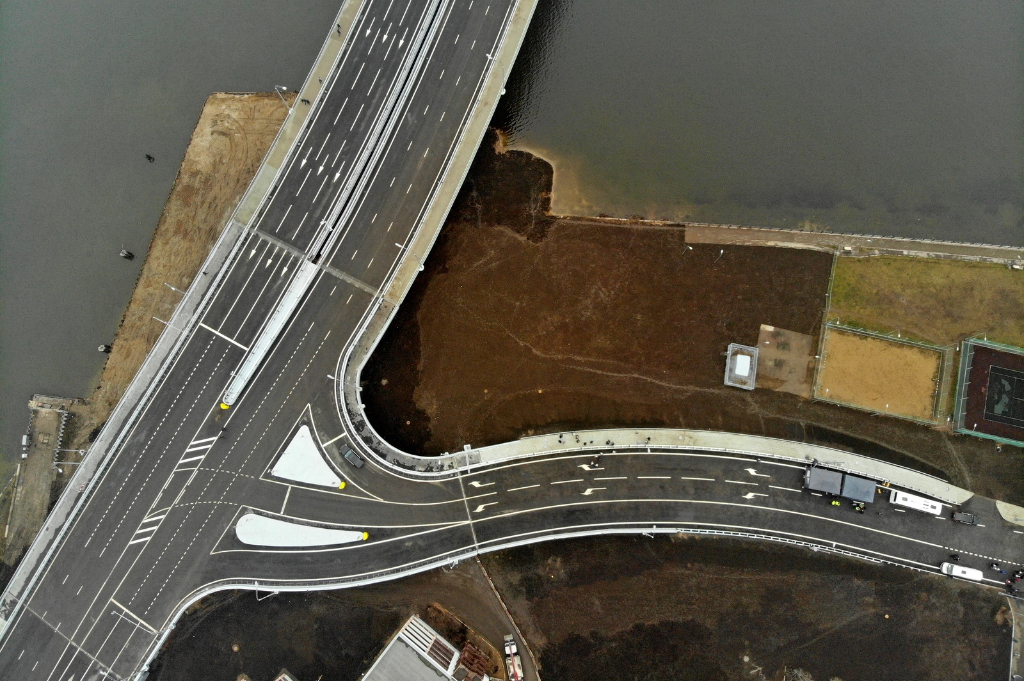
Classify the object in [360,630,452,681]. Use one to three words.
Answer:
building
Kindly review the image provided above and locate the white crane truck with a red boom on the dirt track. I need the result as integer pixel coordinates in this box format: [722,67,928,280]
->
[503,635,523,681]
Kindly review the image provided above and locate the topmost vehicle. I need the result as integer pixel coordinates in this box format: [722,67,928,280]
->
[341,443,364,469]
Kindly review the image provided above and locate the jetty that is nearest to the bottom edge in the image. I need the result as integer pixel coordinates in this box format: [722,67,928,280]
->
[4,394,76,537]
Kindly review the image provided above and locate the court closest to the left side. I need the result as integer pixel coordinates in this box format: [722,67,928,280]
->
[816,329,943,421]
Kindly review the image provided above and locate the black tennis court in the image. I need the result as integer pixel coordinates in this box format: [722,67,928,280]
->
[964,344,1024,444]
